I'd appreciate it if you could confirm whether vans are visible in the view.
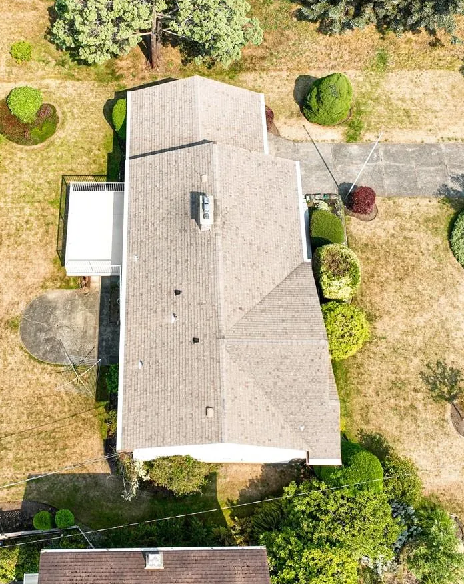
No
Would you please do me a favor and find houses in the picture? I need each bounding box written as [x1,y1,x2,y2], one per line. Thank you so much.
[23,545,272,584]
[115,76,342,473]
